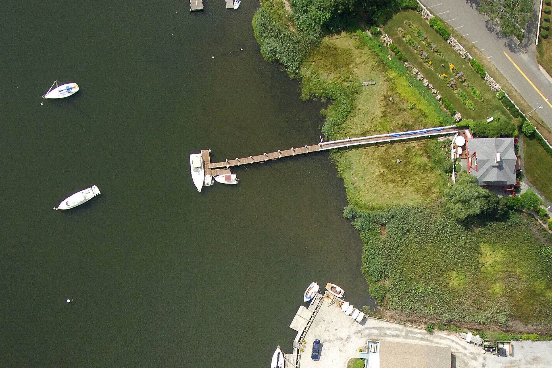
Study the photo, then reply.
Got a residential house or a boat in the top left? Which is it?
boat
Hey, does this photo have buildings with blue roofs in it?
No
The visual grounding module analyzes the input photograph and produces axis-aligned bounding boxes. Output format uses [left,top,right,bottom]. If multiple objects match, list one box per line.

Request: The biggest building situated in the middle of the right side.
[453,130,520,199]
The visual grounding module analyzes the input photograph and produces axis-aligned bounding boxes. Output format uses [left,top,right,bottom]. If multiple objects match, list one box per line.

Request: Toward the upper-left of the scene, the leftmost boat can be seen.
[44,82,80,99]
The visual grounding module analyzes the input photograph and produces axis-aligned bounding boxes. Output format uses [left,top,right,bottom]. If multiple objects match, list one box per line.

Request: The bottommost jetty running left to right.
[202,124,460,183]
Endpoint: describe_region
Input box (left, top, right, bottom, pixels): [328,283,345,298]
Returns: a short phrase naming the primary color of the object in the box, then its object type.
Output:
white boat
